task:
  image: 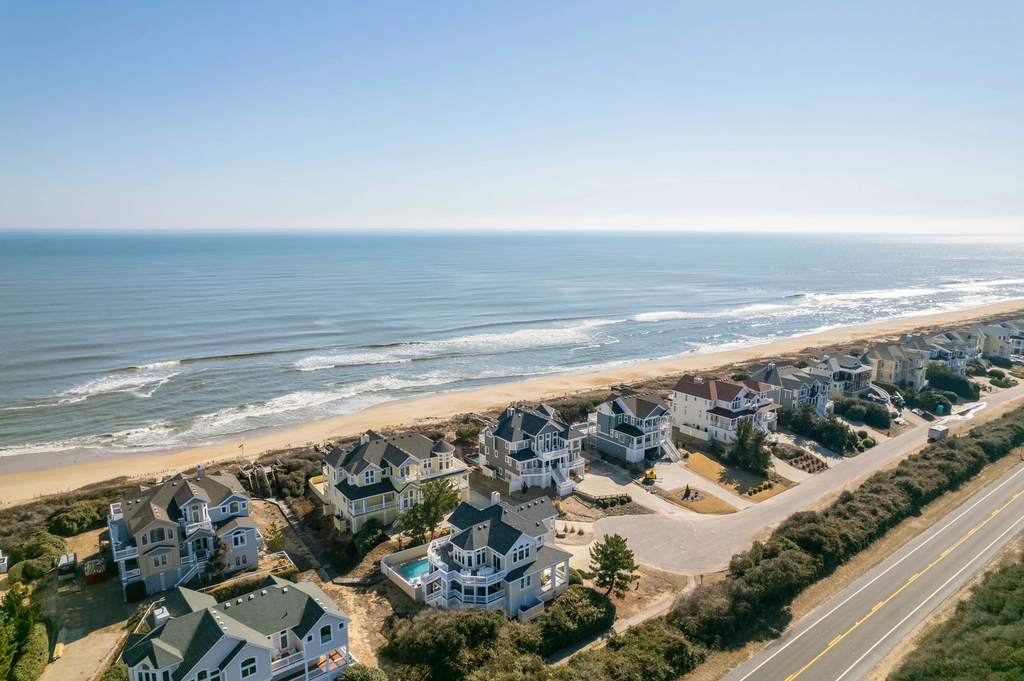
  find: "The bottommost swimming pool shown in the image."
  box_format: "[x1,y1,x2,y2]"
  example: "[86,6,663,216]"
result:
[387,554,439,596]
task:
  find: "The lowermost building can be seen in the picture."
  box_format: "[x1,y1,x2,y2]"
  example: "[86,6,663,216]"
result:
[107,571,375,681]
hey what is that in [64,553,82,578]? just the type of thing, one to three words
vehicle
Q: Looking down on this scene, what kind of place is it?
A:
residential area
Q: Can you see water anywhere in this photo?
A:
Yes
